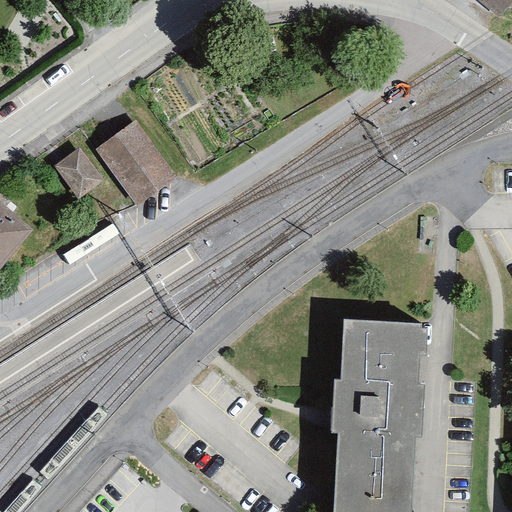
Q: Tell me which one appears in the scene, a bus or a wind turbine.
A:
bus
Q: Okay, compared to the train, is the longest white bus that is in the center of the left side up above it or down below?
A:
above it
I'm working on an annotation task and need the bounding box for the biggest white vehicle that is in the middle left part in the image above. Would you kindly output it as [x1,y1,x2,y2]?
[64,222,121,264]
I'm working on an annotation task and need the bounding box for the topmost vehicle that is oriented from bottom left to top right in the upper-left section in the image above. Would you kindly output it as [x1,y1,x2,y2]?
[46,64,71,85]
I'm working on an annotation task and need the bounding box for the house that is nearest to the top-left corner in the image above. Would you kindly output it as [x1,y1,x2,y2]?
[54,148,104,198]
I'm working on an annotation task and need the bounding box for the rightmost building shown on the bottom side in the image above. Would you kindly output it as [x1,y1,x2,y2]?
[331,320,429,512]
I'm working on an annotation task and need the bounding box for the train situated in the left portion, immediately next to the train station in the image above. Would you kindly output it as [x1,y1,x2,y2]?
[8,405,107,512]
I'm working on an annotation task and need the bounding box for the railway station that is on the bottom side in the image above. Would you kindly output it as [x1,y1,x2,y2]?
[0,243,200,388]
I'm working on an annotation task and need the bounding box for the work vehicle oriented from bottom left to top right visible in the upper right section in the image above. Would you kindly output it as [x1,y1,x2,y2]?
[384,83,412,104]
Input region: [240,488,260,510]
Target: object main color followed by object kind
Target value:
white car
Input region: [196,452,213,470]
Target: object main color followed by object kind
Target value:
red car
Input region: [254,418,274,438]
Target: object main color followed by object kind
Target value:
white car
